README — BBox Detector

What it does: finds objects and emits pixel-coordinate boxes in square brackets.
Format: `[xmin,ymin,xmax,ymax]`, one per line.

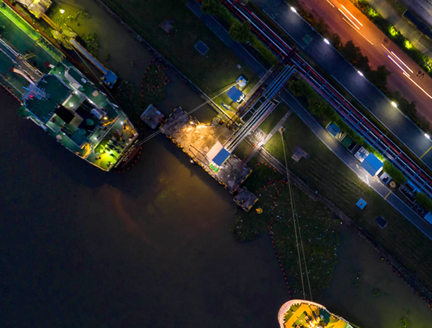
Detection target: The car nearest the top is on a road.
[343,8,359,24]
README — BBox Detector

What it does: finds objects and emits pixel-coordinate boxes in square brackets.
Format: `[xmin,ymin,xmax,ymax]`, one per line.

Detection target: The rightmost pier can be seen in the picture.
[162,105,254,194]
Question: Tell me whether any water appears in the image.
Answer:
Yes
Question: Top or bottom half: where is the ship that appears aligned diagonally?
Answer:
top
